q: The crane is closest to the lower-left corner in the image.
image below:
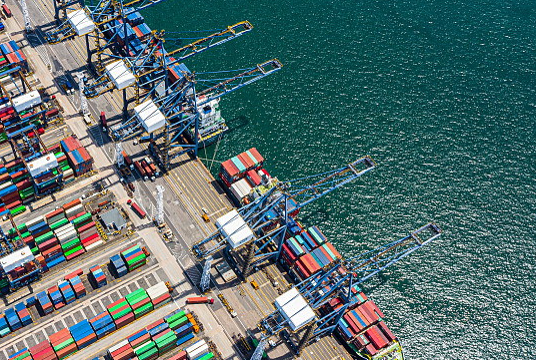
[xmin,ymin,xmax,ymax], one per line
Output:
[0,209,44,292]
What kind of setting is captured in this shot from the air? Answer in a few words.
port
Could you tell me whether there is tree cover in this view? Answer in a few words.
No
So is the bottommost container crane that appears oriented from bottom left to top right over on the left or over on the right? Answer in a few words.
right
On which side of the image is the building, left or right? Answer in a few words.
left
